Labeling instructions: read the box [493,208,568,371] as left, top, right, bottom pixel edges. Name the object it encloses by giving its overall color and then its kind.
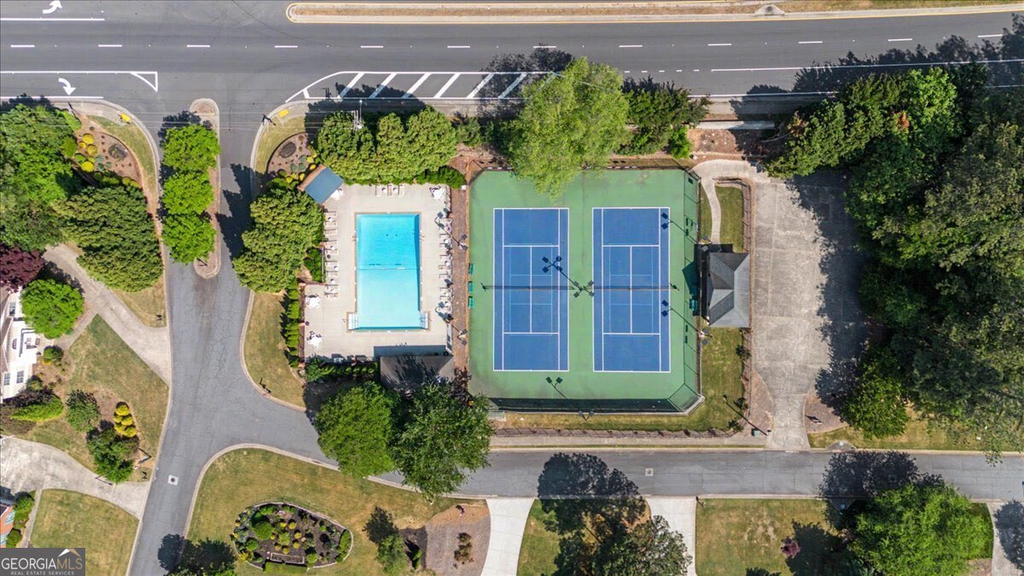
blue tennis court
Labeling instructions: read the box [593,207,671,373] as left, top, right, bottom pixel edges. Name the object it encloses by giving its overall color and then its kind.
blue tennis court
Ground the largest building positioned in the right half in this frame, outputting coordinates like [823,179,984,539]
[706,252,751,328]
